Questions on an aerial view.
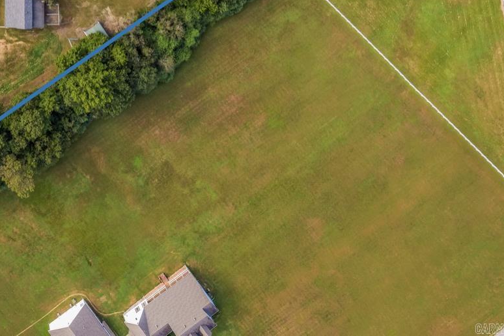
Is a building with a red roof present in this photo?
No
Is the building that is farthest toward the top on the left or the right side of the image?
left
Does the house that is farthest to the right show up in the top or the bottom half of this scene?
bottom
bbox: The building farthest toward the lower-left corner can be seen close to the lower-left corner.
[47,301,113,336]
